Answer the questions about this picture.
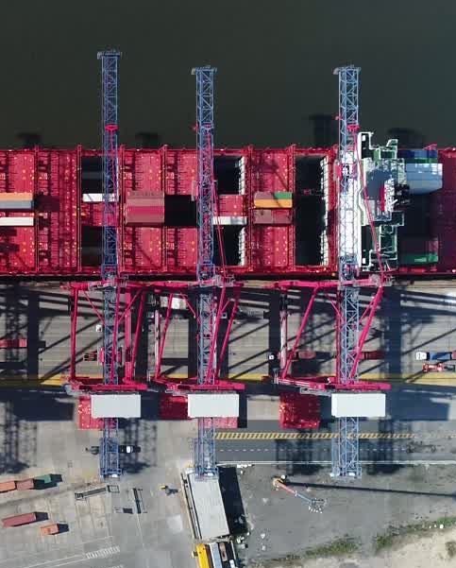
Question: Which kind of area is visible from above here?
port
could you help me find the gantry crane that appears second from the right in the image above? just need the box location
[141,65,252,481]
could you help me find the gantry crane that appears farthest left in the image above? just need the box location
[54,48,154,481]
